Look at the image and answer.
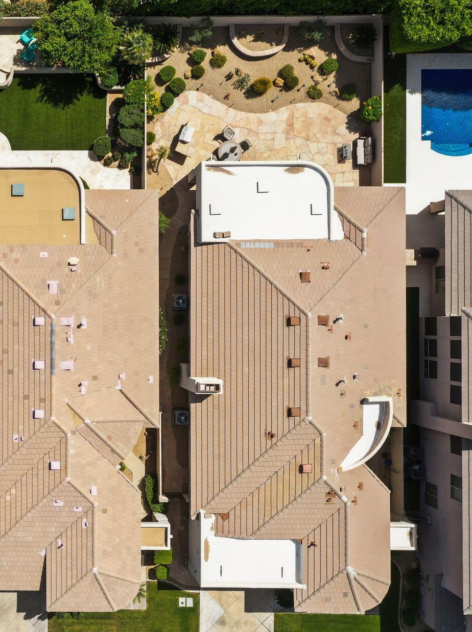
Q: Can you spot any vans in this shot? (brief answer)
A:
No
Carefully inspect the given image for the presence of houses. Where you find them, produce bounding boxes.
[180,153,419,613]
[411,189,472,632]
[0,155,174,614]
